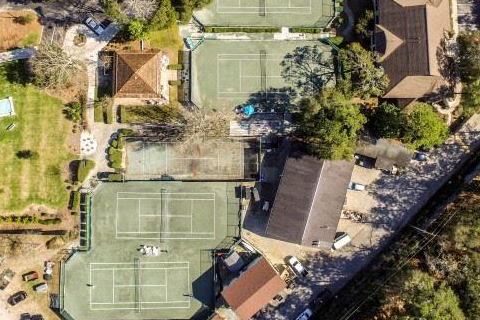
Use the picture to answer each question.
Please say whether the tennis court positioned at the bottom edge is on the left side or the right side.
left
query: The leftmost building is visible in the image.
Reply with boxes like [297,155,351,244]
[115,51,163,99]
